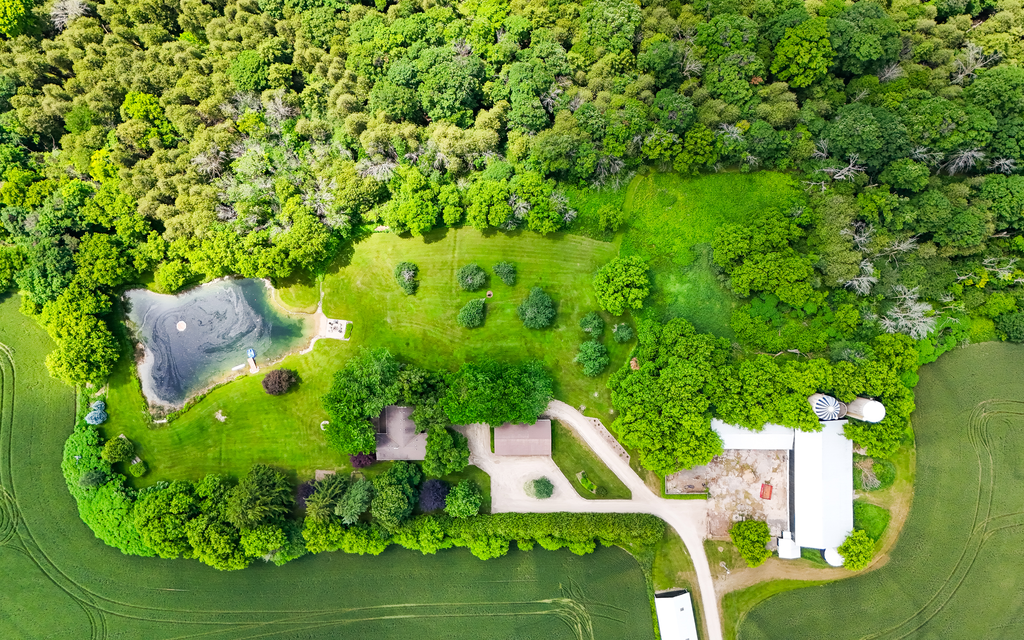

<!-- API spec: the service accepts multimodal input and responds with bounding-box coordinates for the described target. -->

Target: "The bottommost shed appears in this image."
[653,587,698,640]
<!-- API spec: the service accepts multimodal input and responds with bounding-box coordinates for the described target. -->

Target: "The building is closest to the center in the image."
[494,419,551,456]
